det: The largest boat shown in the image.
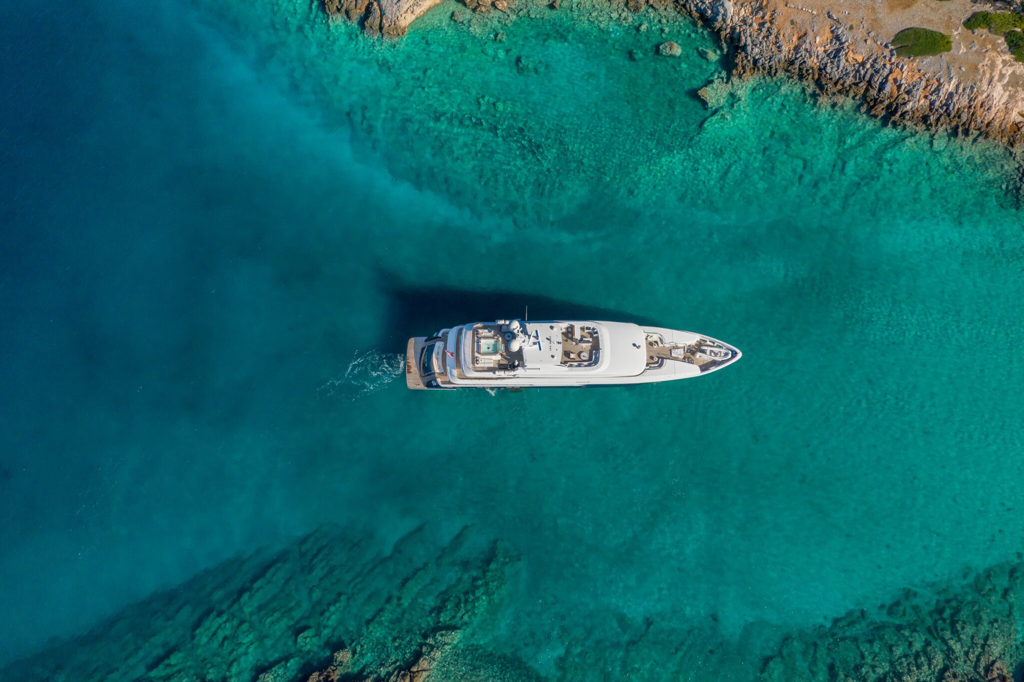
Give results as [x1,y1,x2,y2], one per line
[406,316,743,393]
